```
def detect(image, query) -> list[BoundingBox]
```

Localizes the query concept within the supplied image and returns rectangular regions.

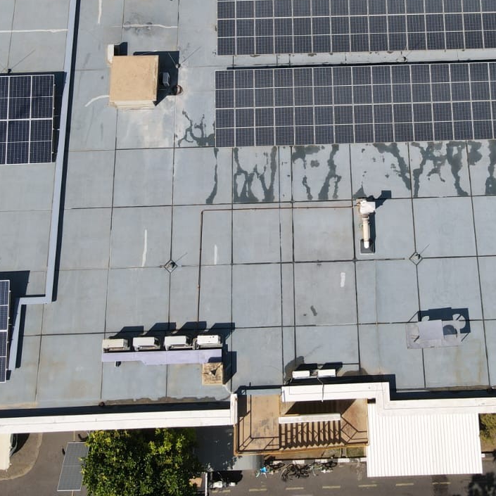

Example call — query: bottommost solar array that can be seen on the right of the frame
[214,63,496,146]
